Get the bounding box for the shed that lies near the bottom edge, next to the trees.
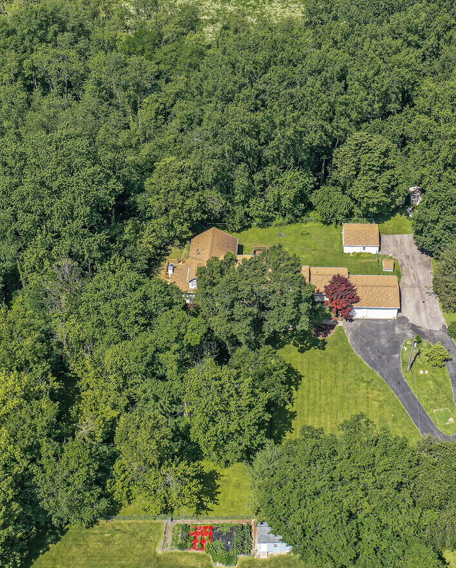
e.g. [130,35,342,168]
[257,523,293,559]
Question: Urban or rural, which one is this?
rural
